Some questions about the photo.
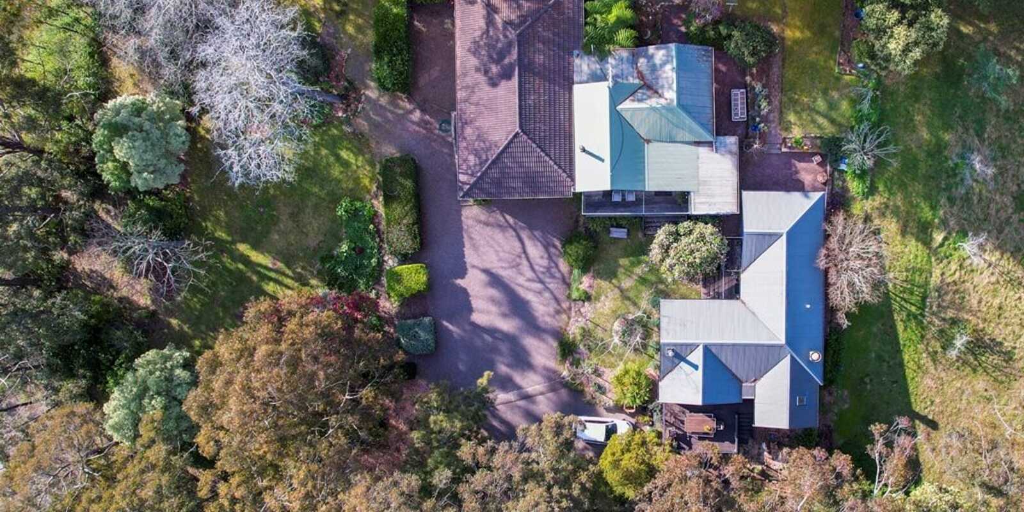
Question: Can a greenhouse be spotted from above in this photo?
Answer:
No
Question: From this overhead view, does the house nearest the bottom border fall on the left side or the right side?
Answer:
right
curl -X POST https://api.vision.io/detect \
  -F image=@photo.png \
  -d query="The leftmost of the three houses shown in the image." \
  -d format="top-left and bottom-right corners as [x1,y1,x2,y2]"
[455,0,576,199]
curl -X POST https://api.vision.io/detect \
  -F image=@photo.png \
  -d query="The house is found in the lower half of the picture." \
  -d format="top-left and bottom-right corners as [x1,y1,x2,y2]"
[656,189,827,430]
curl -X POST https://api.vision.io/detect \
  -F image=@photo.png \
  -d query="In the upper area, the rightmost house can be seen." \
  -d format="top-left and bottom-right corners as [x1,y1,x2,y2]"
[574,41,742,215]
